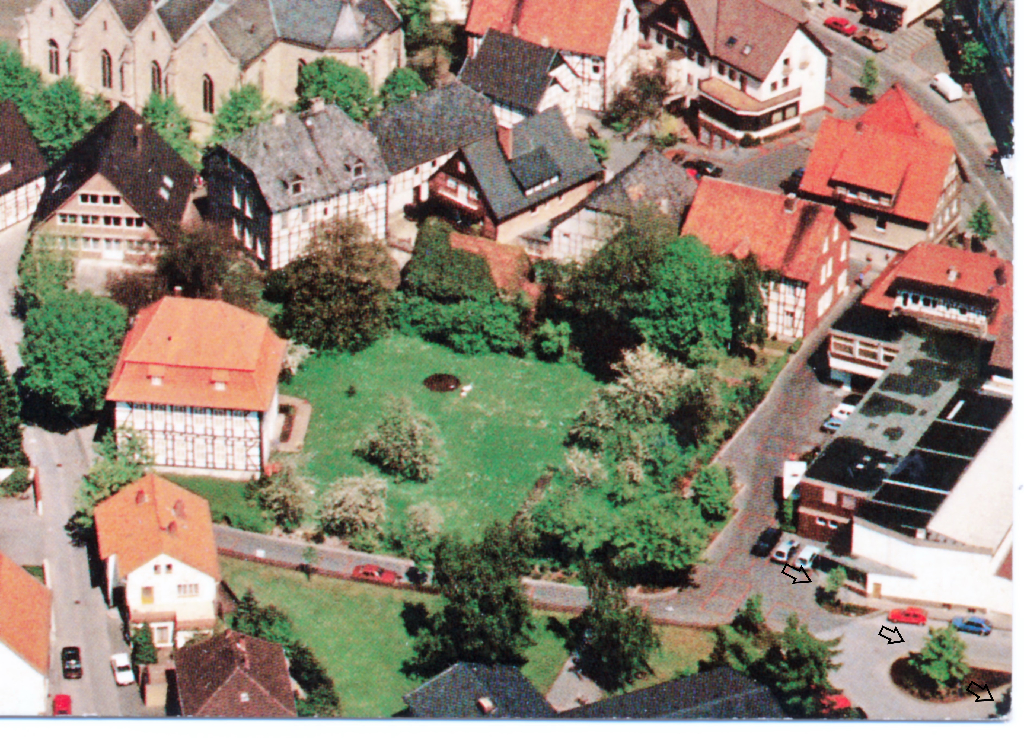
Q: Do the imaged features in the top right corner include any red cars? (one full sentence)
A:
Yes, a red car is visible in the top right corner.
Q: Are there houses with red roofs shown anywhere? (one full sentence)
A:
Yes, the image includes a house with a red roof.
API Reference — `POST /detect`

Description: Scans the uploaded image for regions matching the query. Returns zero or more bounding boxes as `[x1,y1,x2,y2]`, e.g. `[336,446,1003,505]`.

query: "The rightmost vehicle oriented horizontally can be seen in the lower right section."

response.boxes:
[950,614,994,637]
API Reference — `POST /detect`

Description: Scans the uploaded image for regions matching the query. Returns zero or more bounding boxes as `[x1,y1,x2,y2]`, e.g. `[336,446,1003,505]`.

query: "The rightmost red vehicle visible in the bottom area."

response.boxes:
[886,605,929,627]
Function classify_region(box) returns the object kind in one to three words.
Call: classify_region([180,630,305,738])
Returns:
house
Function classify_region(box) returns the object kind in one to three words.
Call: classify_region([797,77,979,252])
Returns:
house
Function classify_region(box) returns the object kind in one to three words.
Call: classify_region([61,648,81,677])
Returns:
car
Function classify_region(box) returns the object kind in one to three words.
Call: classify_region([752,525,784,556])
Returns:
car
